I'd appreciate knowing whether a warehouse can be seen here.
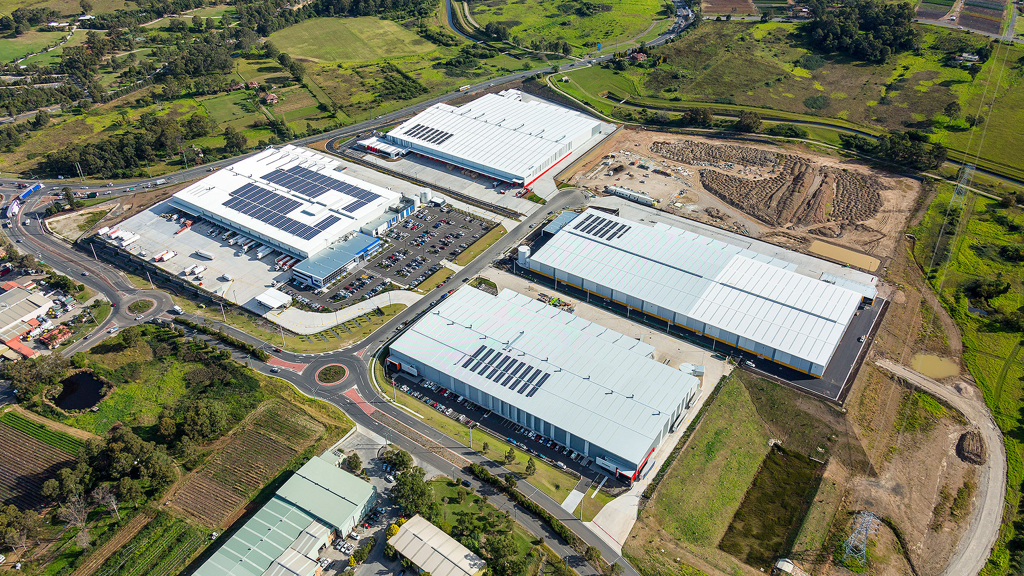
Yes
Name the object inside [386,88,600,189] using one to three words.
building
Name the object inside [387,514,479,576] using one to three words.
building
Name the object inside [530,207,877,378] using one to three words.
warehouse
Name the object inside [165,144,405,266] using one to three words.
warehouse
